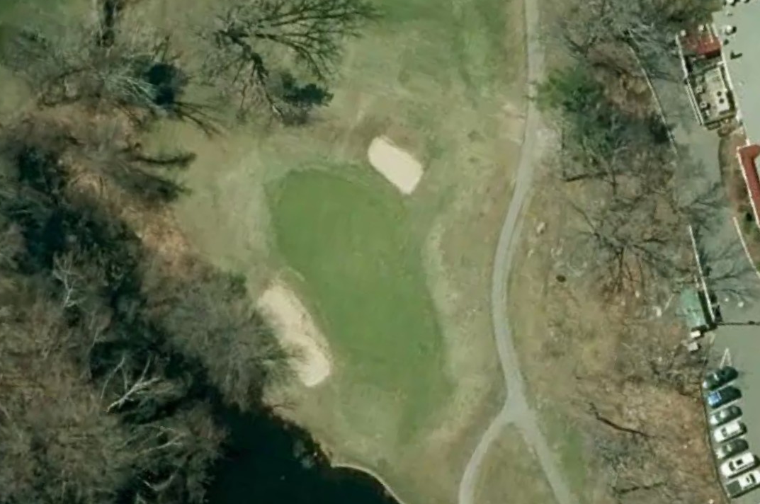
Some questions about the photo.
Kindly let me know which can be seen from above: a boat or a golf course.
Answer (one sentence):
This aerial view contains a golf course.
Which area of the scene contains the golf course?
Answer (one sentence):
The golf course appears toward the center of the photo.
